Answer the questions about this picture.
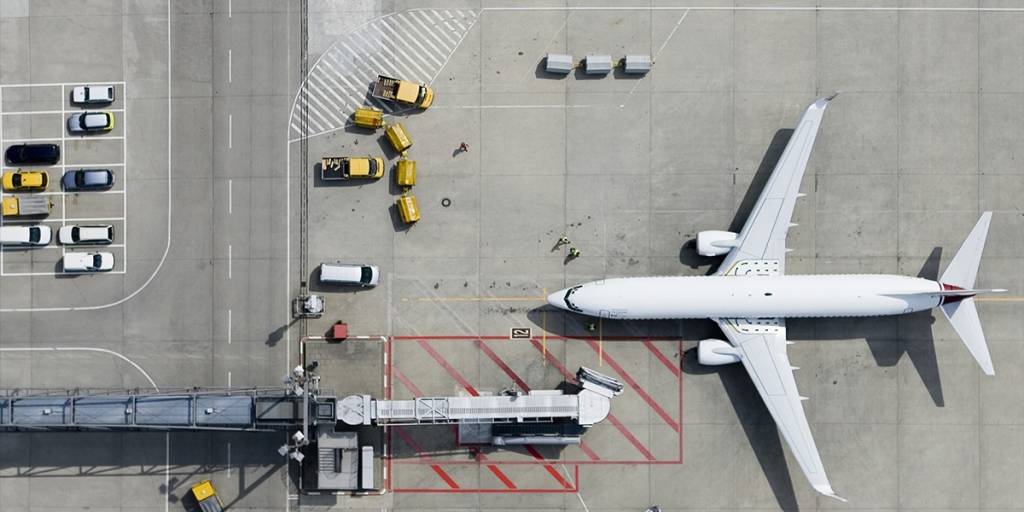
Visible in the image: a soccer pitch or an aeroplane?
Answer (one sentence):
I can see an aeroplane in this picture.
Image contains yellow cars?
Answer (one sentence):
Yes, the photo shows a yellow car.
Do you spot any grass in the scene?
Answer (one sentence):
No, grass can't be seen anywhere here.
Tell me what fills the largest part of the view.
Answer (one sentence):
The largest share of the image is taken up by paved ground.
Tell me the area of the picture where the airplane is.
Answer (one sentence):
The airplane appears toward the right of the photo.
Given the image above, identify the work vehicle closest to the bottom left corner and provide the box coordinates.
[192,479,226,512]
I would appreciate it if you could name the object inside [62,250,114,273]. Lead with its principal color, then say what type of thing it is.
white vehicle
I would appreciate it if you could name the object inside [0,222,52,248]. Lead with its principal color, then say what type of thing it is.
white vehicle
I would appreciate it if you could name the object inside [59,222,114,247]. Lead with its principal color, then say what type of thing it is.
white car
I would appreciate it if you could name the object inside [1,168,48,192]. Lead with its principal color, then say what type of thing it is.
yellow car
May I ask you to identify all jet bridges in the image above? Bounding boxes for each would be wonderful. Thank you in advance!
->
[338,368,622,446]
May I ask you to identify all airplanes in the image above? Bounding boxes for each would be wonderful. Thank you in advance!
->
[546,91,1005,500]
